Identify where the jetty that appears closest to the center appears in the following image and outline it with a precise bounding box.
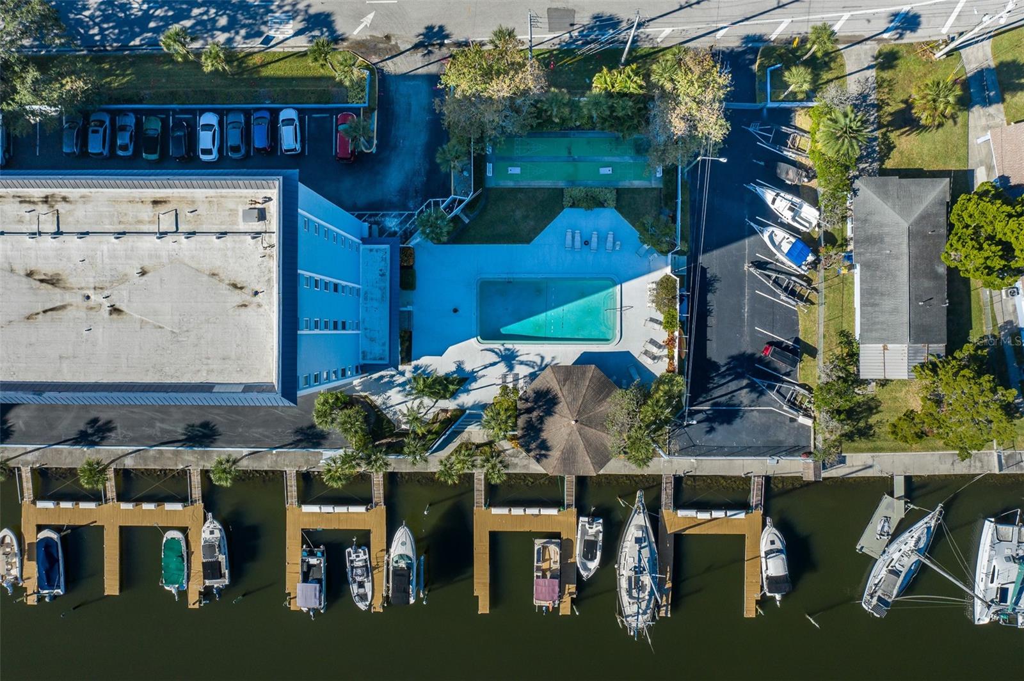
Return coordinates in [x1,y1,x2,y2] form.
[474,473,578,615]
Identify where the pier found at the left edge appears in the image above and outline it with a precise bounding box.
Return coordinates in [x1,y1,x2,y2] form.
[15,468,205,608]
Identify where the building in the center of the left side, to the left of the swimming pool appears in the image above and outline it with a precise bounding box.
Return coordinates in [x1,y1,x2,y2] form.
[0,167,399,405]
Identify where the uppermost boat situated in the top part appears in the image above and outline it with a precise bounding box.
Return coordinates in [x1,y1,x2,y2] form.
[775,160,817,188]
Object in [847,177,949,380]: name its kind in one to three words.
house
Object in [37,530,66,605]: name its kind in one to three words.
boat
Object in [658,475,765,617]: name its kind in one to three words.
pier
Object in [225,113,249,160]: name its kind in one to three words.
car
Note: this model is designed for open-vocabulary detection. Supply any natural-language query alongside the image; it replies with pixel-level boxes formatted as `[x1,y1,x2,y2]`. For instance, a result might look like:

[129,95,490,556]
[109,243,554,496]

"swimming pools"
[478,276,626,343]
